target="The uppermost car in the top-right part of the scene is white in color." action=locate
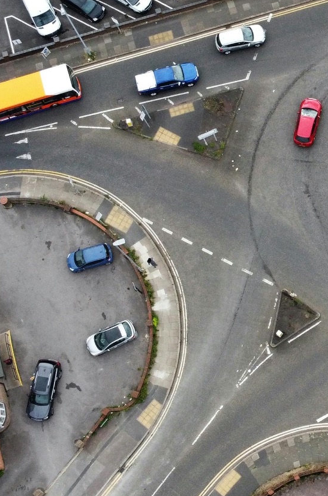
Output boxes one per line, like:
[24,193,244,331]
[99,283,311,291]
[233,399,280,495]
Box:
[213,19,266,49]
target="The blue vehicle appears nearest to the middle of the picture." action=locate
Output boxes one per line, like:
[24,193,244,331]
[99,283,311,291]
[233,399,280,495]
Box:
[64,241,113,270]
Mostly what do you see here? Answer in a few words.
paved ground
